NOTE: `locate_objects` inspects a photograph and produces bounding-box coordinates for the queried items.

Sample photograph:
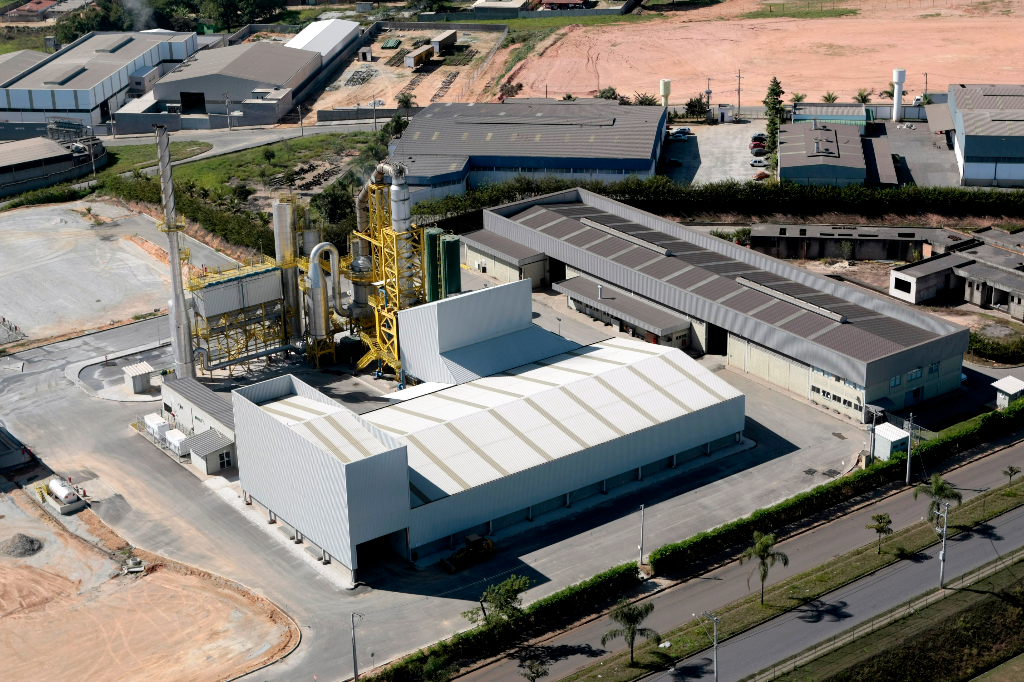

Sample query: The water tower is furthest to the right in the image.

[891,66,908,121]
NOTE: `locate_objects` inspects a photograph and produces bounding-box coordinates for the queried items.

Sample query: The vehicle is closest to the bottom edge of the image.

[440,535,498,580]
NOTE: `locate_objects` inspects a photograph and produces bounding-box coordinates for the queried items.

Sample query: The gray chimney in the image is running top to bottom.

[154,124,199,377]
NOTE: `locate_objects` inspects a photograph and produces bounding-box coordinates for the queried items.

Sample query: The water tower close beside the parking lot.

[659,78,672,121]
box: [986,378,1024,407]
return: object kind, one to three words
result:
shed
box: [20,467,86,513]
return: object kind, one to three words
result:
storage tank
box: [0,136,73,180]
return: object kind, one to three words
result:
building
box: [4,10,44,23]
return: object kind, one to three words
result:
house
